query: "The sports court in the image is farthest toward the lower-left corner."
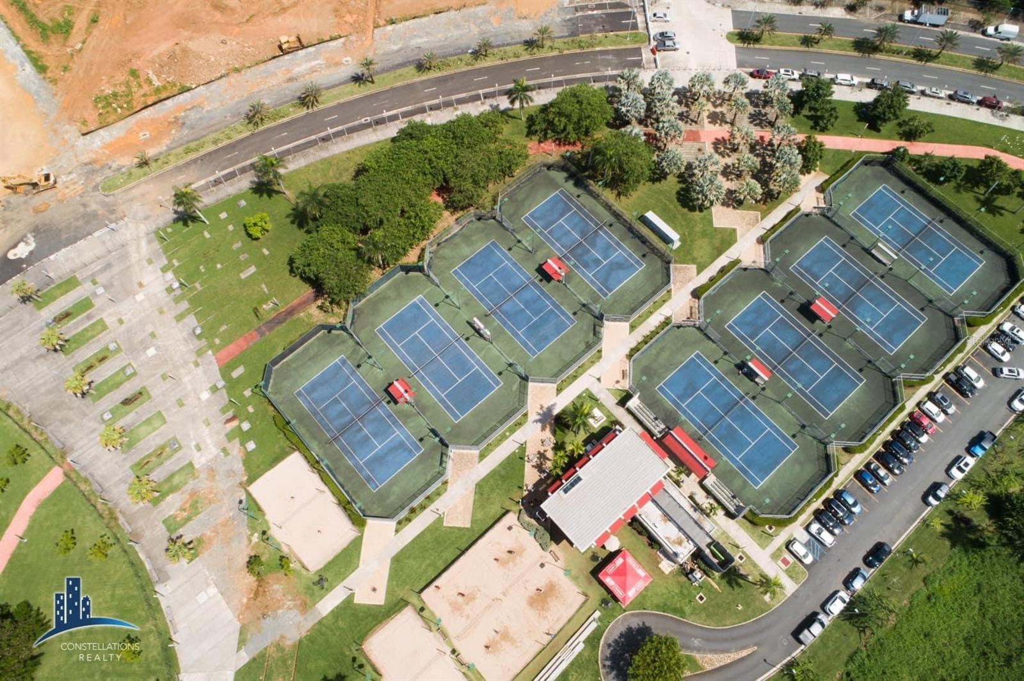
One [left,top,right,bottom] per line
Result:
[248,452,360,572]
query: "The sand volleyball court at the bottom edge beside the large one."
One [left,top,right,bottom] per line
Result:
[362,606,471,681]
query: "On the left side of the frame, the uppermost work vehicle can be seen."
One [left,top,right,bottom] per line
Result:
[278,34,303,53]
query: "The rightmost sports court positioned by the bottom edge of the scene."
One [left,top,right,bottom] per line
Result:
[420,512,588,681]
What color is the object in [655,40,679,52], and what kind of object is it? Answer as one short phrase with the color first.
gray vehicle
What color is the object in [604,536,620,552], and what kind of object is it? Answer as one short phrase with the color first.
white umbrella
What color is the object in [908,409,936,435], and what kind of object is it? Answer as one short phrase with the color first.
red car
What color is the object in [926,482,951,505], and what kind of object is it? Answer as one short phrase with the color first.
white car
